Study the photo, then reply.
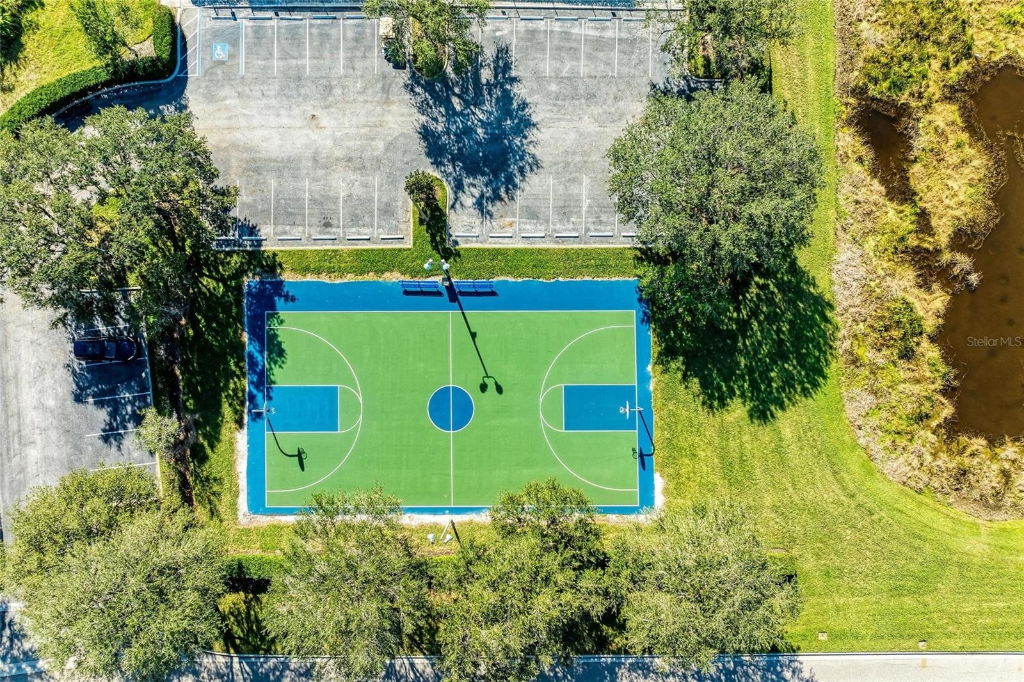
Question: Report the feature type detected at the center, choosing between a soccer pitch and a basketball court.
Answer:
basketball court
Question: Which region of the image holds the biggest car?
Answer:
left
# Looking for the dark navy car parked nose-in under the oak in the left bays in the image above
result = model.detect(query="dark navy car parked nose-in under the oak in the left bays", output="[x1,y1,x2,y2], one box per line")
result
[76,335,139,363]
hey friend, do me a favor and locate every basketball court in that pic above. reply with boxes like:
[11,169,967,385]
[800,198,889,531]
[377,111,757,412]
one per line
[247,277,655,515]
